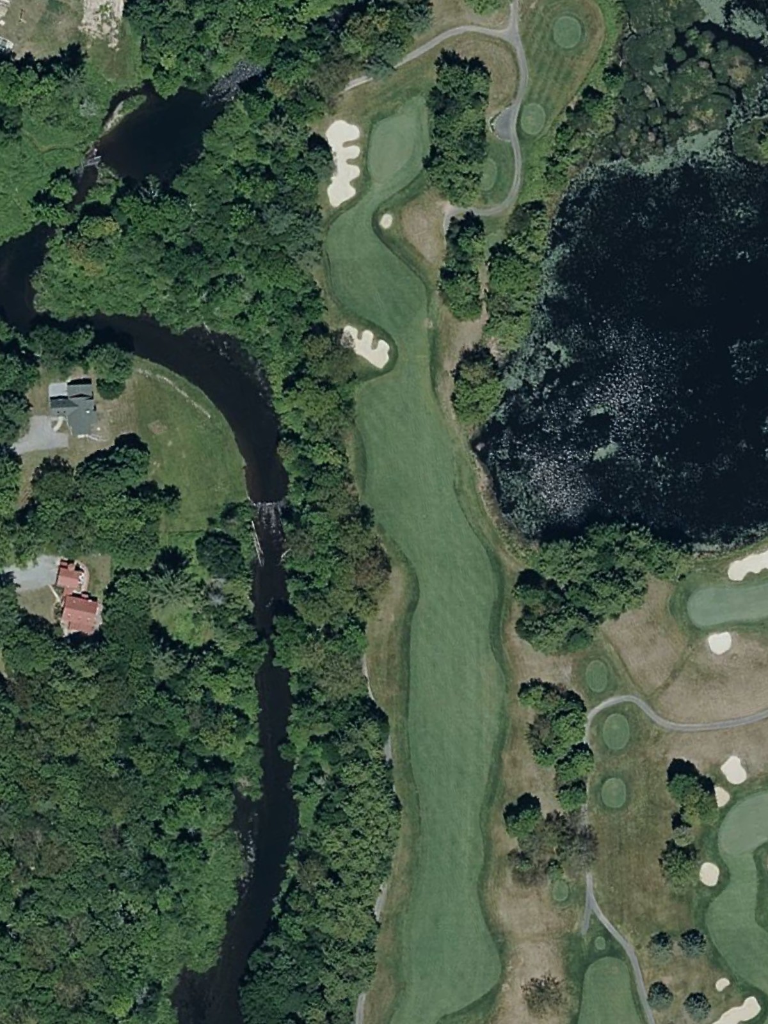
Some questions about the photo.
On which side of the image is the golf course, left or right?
right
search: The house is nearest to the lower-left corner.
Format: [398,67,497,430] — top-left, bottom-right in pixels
[54,560,100,637]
